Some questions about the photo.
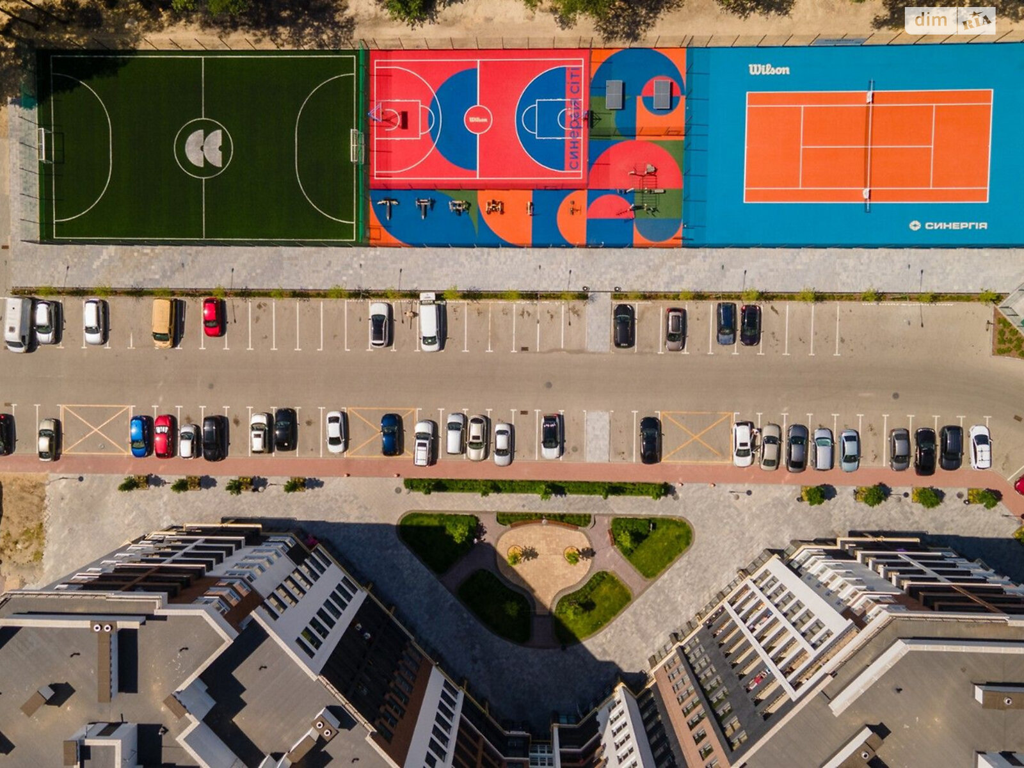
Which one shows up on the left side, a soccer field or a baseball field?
soccer field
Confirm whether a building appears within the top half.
No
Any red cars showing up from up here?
Yes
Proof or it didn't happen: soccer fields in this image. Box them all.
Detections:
[40,49,369,246]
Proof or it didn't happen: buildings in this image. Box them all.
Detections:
[0,518,552,768]
[549,532,1024,768]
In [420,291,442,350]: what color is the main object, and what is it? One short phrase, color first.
white vehicle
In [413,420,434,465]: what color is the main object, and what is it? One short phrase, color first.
white car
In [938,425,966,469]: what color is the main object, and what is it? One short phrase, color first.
black car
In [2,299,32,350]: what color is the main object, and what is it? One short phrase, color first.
white vehicle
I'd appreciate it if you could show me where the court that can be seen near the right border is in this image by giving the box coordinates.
[684,42,1024,248]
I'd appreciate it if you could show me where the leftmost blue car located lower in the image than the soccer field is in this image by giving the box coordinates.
[129,415,151,456]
